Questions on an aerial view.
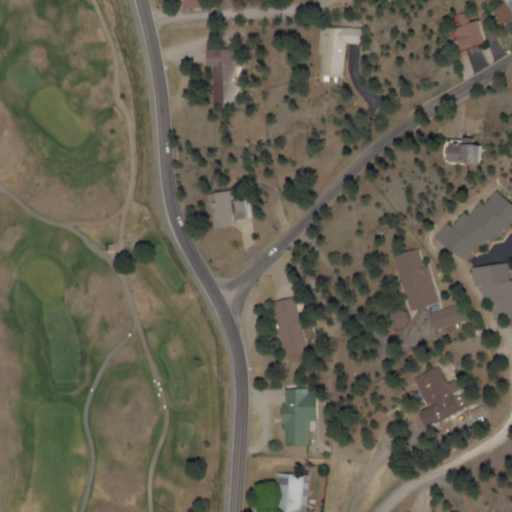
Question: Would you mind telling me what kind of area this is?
golf course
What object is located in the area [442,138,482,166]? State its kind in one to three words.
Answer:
house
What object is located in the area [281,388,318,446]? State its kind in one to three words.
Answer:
house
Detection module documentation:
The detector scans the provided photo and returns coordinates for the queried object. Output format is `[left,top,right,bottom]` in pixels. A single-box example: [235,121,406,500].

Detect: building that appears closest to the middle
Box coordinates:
[212,191,252,227]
